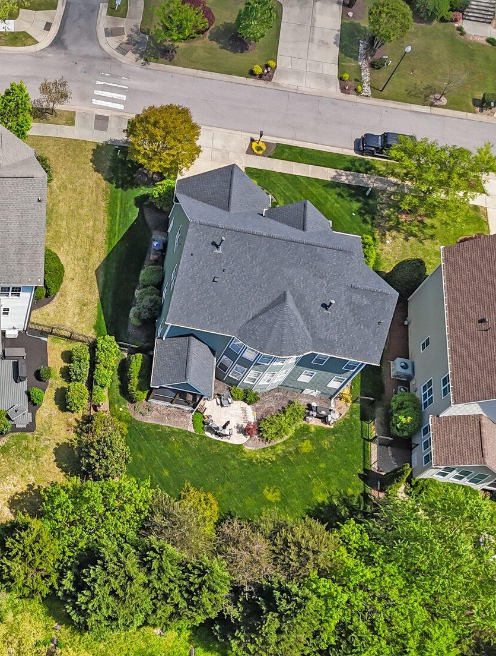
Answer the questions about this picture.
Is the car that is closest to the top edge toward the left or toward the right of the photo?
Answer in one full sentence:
It is on the right.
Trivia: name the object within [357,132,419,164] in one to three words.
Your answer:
car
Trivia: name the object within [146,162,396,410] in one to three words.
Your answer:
house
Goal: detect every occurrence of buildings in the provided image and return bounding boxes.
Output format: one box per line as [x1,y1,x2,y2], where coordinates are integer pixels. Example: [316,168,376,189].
[0,122,45,355]
[407,234,496,496]
[146,162,396,410]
